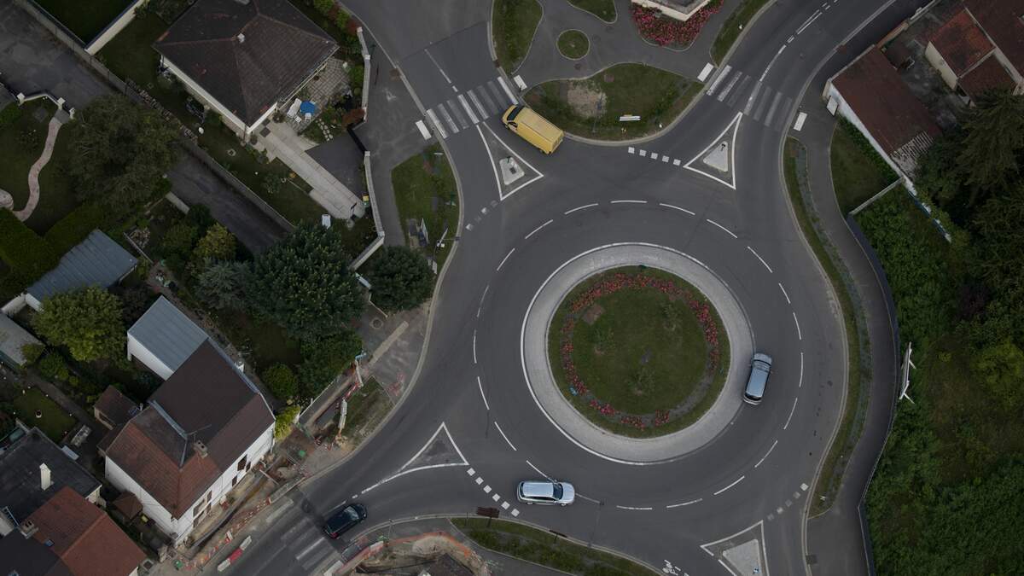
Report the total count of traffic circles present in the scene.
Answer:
1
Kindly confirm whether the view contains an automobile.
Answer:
Yes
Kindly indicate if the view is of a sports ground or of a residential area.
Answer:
residential area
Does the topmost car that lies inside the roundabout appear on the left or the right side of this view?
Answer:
right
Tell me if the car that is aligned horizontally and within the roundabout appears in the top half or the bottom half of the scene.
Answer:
bottom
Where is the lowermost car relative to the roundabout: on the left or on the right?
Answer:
on its left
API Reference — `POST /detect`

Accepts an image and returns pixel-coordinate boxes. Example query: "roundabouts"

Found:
[432,163,843,551]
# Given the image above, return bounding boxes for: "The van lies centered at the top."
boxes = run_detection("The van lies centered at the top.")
[499,107,562,158]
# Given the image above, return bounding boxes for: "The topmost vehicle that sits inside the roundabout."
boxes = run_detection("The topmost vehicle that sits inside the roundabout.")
[742,354,773,408]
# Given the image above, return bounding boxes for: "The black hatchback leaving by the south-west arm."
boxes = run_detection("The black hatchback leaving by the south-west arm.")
[319,503,370,542]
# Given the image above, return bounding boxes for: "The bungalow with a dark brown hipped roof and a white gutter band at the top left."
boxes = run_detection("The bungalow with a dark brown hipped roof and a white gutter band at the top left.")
[153,0,339,145]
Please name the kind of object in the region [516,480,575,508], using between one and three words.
car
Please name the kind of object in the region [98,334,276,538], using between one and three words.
house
